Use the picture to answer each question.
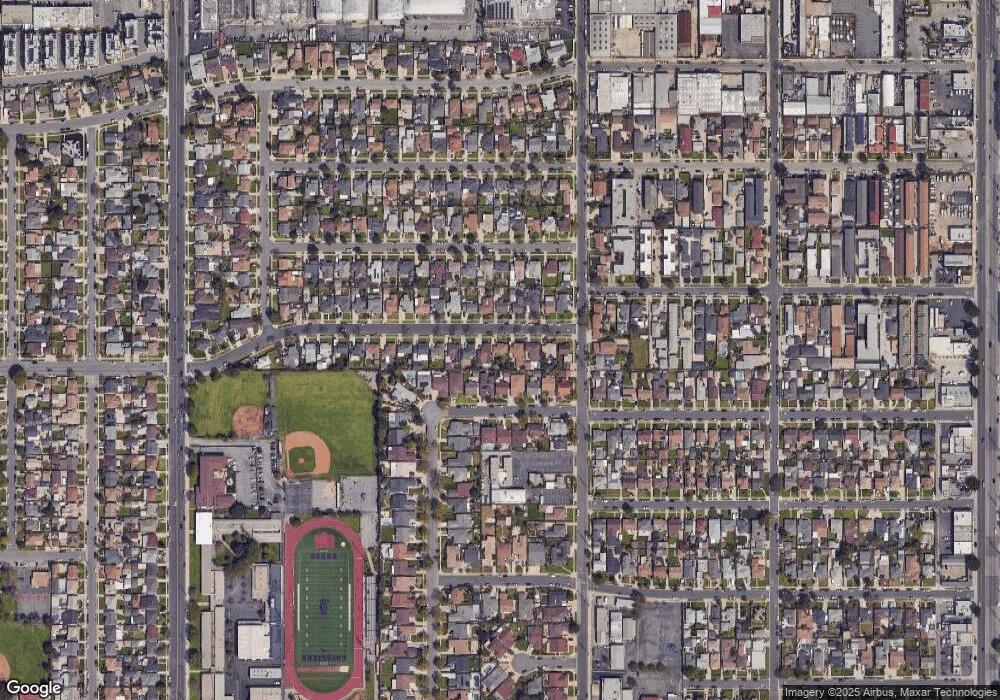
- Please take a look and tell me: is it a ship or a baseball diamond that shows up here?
baseball diamond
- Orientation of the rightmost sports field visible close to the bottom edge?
up and down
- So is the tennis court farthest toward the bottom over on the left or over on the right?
left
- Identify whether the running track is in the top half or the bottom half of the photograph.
bottom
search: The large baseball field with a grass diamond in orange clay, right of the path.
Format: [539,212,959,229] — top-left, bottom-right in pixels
[277,372,377,479]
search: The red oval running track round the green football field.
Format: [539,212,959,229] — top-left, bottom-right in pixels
[285,517,364,700]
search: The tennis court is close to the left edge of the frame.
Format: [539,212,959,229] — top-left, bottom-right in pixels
[17,577,50,618]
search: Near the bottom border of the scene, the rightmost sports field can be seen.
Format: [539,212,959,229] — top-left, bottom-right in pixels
[295,528,354,691]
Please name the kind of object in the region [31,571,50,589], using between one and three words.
building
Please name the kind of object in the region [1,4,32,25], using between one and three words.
building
